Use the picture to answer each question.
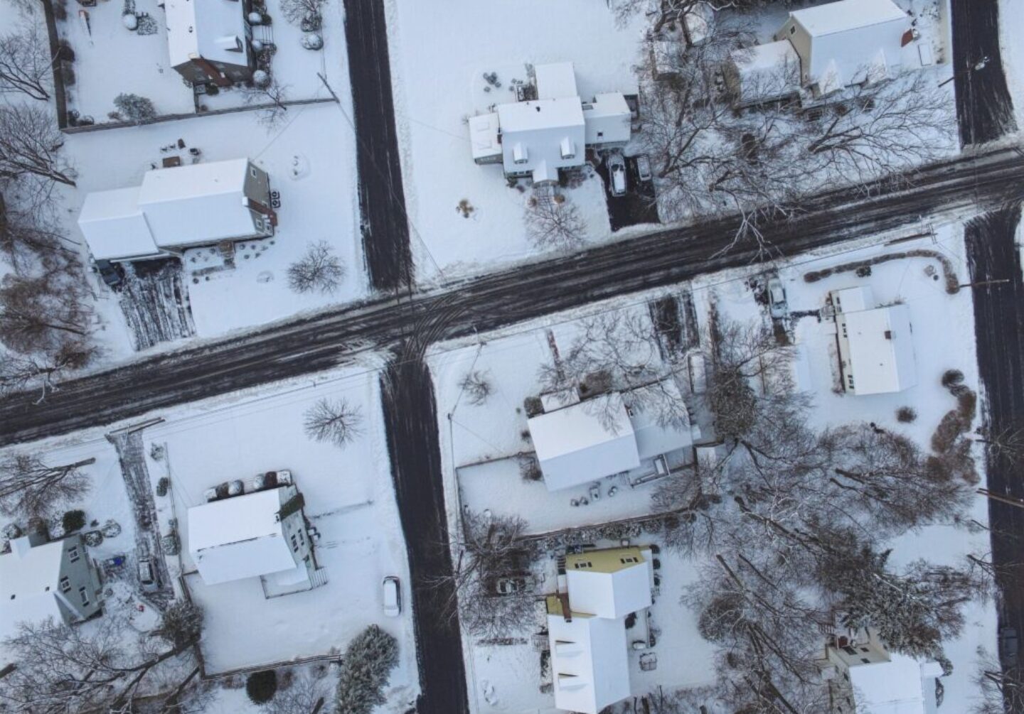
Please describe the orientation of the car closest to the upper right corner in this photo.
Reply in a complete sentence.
The car closest to the upper right corner has been laid out from top to bottom relative to the frame.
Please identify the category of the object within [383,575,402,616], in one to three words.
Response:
car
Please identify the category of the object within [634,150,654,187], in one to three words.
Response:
car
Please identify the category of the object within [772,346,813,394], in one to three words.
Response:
building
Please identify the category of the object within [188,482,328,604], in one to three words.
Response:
house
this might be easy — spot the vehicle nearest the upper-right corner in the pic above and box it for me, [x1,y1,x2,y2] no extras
[767,276,790,318]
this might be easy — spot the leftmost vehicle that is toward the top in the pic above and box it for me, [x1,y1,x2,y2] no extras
[98,259,124,291]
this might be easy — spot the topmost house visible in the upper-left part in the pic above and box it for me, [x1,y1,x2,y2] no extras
[167,0,282,95]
